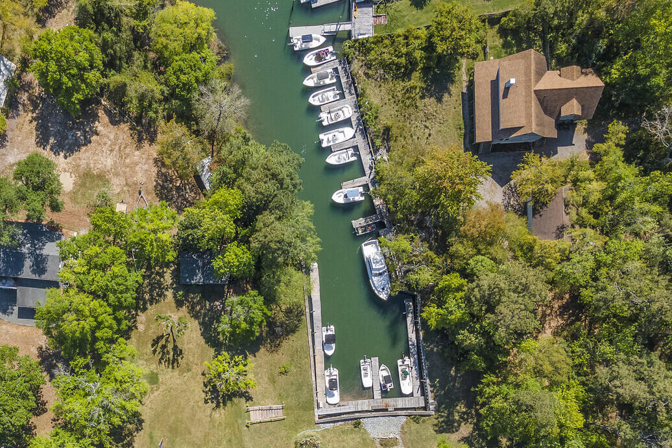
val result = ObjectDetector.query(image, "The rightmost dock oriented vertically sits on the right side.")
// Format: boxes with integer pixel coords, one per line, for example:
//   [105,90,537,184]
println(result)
[400,297,422,396]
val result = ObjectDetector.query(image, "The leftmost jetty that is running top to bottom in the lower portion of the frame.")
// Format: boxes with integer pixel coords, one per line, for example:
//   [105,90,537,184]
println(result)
[310,266,326,404]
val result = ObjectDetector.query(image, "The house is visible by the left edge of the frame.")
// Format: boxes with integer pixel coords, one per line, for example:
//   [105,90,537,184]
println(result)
[0,224,78,310]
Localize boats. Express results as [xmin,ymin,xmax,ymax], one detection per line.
[348,223,377,236]
[308,87,344,103]
[314,106,354,130]
[286,32,326,56]
[303,69,341,86]
[313,129,356,150]
[324,361,341,405]
[361,235,390,301]
[359,352,378,388]
[397,351,414,395]
[303,46,341,65]
[380,365,394,391]
[323,318,339,356]
[325,149,360,164]
[332,184,372,203]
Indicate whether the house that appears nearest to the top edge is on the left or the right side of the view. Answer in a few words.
right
